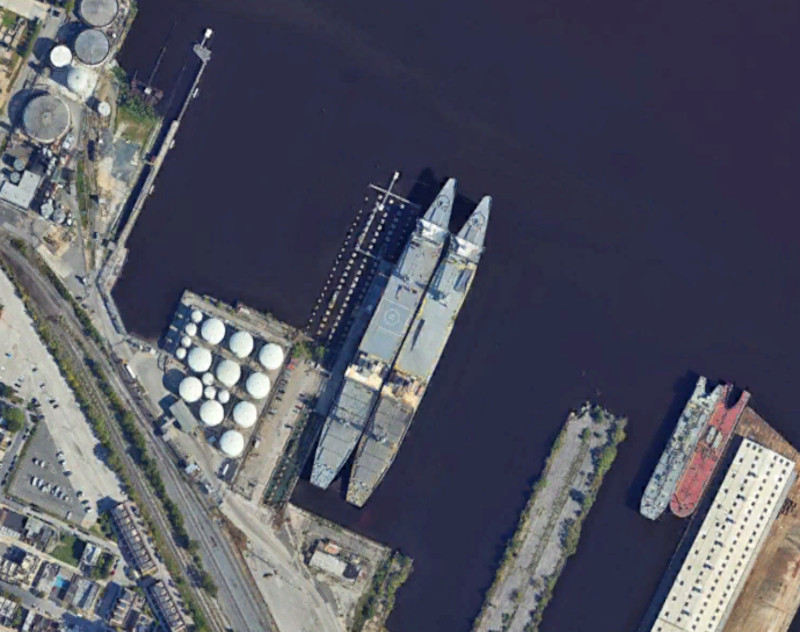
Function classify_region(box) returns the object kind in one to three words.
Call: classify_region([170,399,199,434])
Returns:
shed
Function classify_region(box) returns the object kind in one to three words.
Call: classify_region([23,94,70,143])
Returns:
storage tank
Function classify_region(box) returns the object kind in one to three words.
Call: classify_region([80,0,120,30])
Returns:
storage tank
